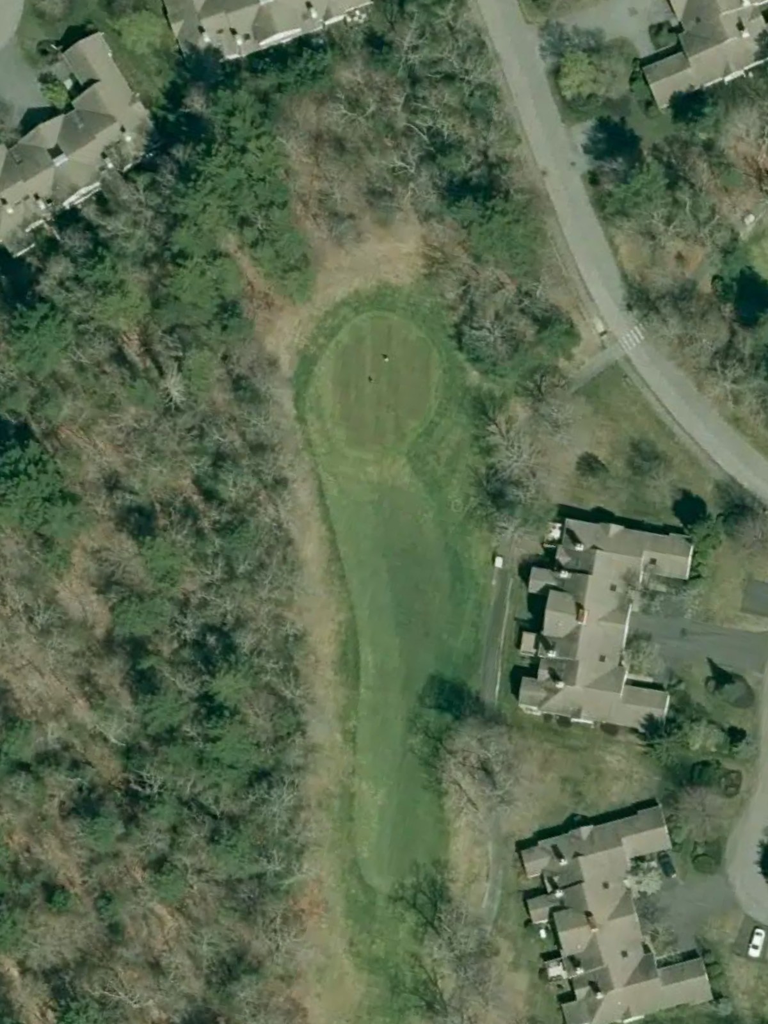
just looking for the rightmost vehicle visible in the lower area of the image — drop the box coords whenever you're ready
[748,927,765,958]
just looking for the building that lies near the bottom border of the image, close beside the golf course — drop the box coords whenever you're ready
[518,803,713,1024]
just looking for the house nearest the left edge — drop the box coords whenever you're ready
[0,33,156,259]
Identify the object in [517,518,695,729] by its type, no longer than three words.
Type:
house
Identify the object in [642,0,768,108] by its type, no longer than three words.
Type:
house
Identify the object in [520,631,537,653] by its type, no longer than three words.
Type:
shed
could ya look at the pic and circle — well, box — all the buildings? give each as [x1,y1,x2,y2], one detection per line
[520,631,537,653]
[518,803,713,1024]
[517,518,695,729]
[0,33,156,259]
[159,0,423,64]
[642,0,768,108]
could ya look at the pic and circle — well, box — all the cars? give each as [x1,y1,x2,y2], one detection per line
[748,927,765,958]
[657,849,677,880]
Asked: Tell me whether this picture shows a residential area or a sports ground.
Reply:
residential area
